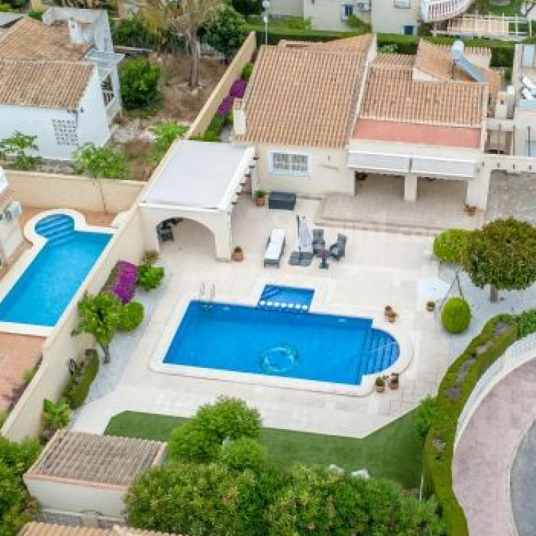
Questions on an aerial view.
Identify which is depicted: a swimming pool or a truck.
swimming pool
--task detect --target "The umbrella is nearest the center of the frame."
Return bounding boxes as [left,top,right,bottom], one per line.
[289,211,313,266]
